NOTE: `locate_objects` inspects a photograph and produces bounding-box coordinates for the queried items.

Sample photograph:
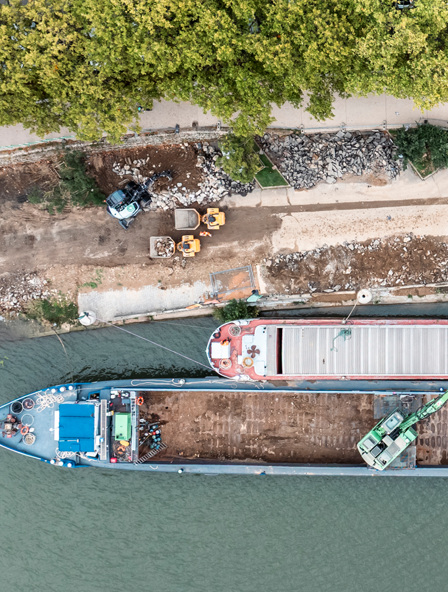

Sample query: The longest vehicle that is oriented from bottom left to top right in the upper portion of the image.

[91,160,166,233]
